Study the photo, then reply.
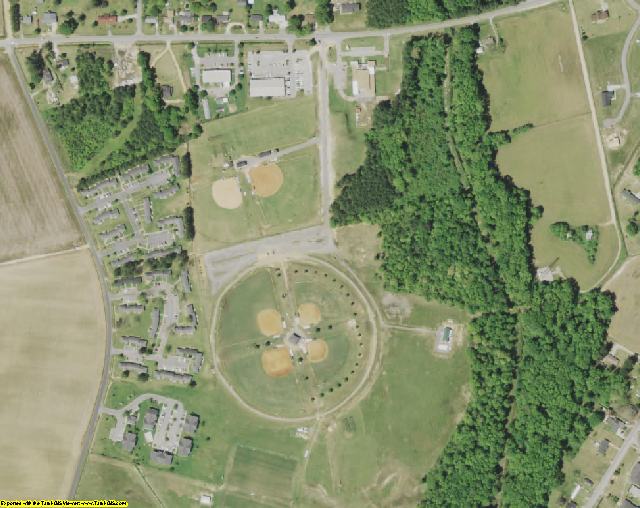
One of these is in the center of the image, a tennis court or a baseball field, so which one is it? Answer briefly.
baseball field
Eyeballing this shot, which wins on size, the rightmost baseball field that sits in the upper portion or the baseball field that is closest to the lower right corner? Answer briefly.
the rightmost baseball field that sits in the upper portion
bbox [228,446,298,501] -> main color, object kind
green sports field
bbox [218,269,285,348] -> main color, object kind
green baseball field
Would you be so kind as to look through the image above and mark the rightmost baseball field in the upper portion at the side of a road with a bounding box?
[246,143,323,231]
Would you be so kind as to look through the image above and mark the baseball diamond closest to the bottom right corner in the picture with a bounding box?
[302,330,354,386]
